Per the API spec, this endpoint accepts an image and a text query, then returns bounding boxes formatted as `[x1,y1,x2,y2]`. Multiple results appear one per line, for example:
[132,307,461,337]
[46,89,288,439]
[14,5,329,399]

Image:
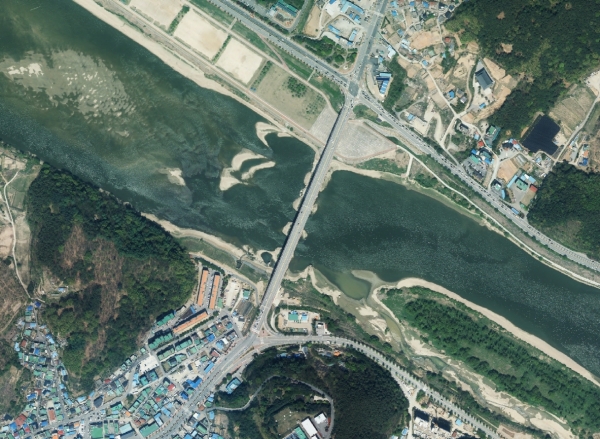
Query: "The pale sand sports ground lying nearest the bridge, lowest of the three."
[217,38,263,83]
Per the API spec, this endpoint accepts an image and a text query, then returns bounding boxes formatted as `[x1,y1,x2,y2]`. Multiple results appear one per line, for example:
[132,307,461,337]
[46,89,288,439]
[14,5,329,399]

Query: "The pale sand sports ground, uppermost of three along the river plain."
[129,0,184,30]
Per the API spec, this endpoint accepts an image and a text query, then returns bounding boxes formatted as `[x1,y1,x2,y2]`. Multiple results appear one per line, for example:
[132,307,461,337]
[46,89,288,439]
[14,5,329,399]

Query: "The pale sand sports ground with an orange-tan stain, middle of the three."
[174,9,228,60]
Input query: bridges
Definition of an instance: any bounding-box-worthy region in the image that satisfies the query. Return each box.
[254,89,359,329]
